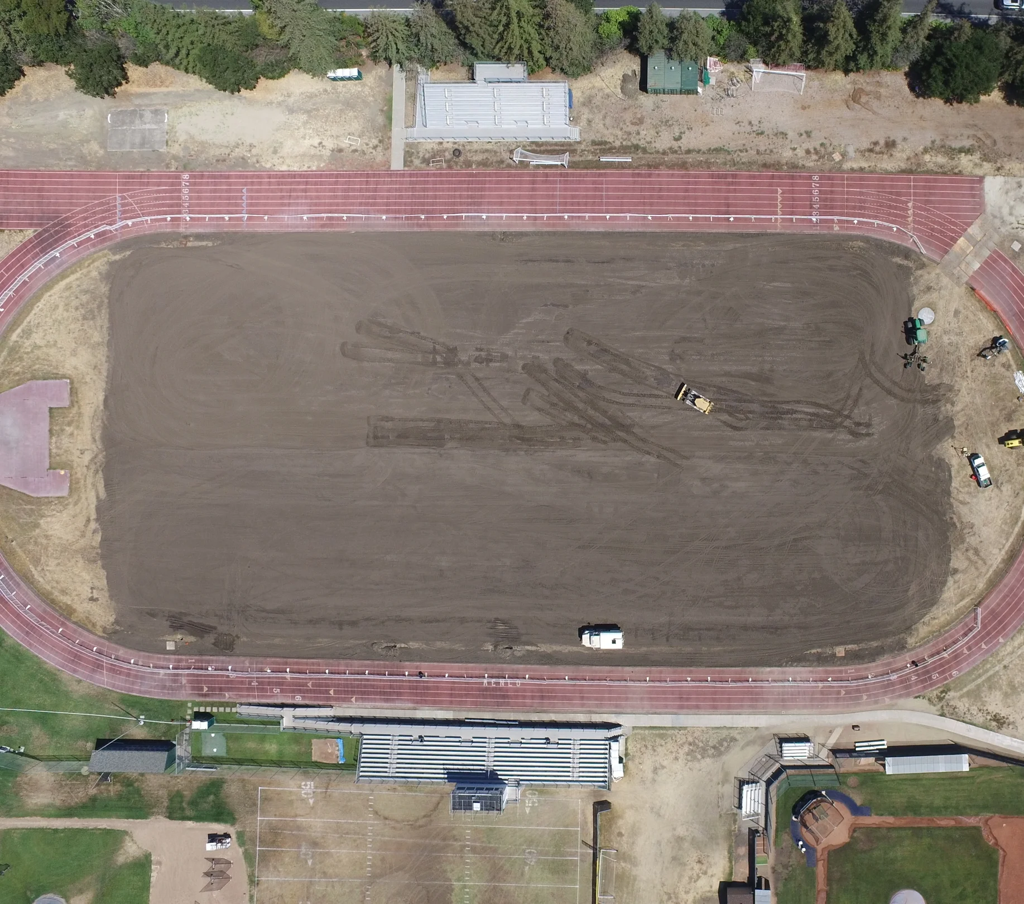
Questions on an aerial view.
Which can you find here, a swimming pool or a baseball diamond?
baseball diamond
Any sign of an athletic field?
Yes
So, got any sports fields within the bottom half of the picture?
Yes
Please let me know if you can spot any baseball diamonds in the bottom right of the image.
Yes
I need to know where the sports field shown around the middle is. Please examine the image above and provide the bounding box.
[101,233,955,664]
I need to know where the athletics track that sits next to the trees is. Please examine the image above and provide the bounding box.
[0,170,1024,709]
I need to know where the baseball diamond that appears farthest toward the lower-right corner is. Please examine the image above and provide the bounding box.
[767,767,1024,904]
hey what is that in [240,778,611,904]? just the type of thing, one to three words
sports field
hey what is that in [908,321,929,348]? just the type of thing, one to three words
work vehicle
